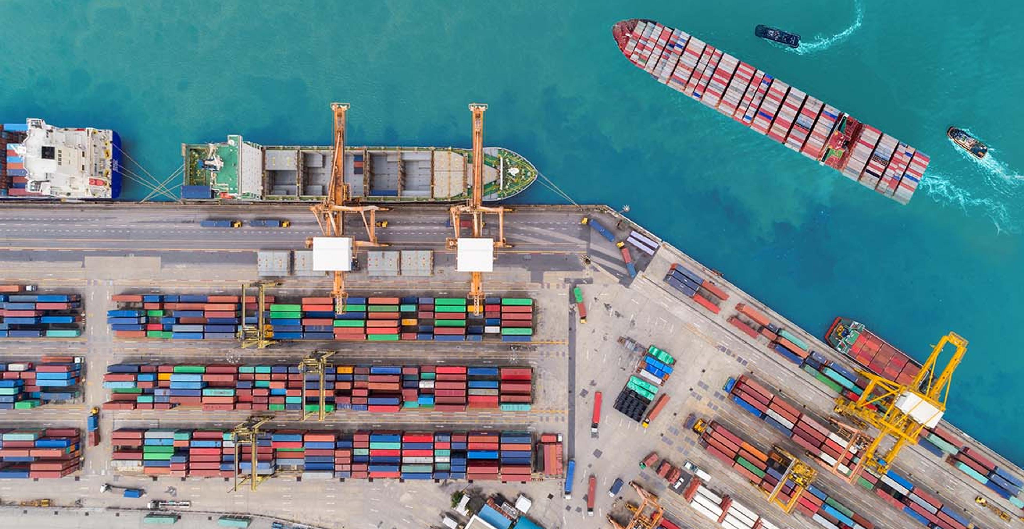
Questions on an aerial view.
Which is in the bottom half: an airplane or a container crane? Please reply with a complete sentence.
Looking in the bottom half, you will find a container crane.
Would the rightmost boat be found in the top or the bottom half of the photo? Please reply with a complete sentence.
You can find the rightmost boat in the top half.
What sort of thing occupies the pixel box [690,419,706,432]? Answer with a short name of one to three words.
vehicle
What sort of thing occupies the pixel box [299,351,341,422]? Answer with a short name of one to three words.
container crane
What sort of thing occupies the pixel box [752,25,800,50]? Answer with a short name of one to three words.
boat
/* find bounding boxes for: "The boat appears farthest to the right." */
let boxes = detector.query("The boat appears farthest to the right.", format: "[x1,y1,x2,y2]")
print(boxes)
[942,127,987,161]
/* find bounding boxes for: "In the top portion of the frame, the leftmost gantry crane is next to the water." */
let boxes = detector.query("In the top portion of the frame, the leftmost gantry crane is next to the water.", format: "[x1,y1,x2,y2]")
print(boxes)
[304,100,392,320]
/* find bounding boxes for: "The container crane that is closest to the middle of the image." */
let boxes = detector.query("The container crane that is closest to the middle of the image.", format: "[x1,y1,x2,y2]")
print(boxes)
[446,101,513,319]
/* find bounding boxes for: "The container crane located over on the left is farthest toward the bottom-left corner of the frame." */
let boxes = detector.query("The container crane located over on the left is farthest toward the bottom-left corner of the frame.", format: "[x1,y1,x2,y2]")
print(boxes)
[231,416,278,494]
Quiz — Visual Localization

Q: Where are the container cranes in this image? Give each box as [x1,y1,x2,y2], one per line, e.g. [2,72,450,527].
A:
[601,476,669,529]
[446,101,513,319]
[304,100,392,320]
[239,282,285,349]
[231,416,278,494]
[741,439,822,515]
[827,329,971,469]
[299,351,341,422]
[801,412,882,484]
